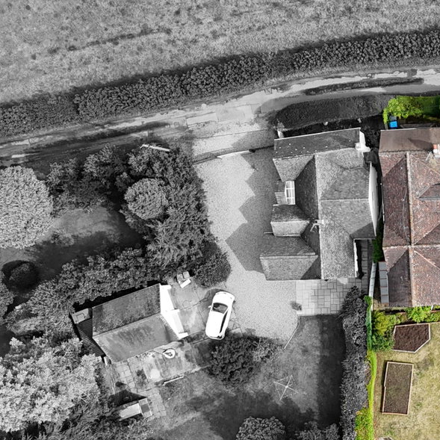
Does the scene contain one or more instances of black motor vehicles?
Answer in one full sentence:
No, no black motor vehicle is visible in the view.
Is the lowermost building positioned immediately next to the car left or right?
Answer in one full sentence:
The lowermost building positioned immediately next to the car appears in the left half of the scene.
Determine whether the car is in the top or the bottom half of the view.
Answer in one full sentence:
Seen from above, the car lies in the bottom half of the view.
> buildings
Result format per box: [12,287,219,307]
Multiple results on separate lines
[119,398,154,417]
[379,127,440,306]
[93,284,188,362]
[260,126,377,280]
